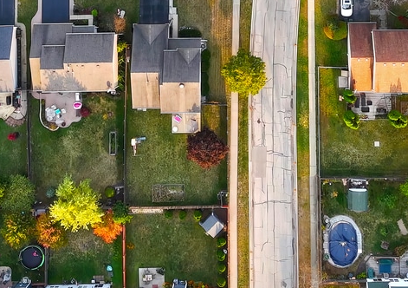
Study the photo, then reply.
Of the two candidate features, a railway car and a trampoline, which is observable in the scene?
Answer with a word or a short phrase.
trampoline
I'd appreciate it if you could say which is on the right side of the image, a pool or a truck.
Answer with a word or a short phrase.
pool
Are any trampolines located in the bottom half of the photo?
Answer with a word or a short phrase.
Yes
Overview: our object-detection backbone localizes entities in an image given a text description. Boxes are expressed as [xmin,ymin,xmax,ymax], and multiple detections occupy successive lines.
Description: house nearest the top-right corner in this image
[347,22,408,94]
